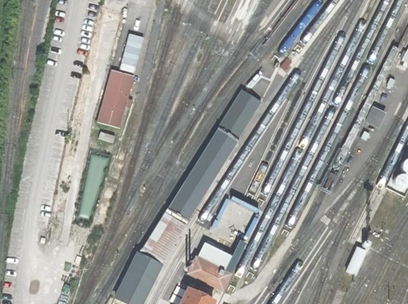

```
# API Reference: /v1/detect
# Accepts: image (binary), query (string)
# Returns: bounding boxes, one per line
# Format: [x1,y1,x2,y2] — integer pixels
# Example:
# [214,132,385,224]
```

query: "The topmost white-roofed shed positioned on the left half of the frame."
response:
[119,32,142,73]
